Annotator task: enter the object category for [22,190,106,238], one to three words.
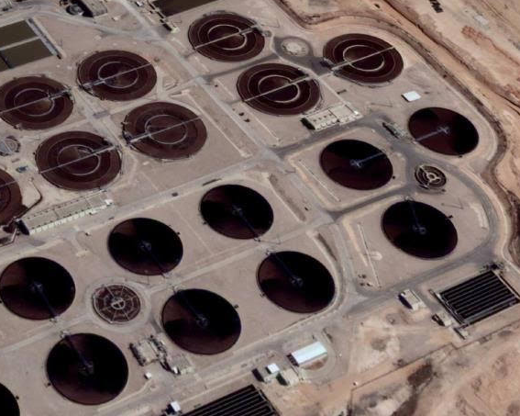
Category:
building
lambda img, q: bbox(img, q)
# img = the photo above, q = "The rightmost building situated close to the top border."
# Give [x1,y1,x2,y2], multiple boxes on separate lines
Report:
[77,0,107,23]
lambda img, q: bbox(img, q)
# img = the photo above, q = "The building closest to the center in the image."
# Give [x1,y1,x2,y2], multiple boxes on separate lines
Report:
[305,111,337,136]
